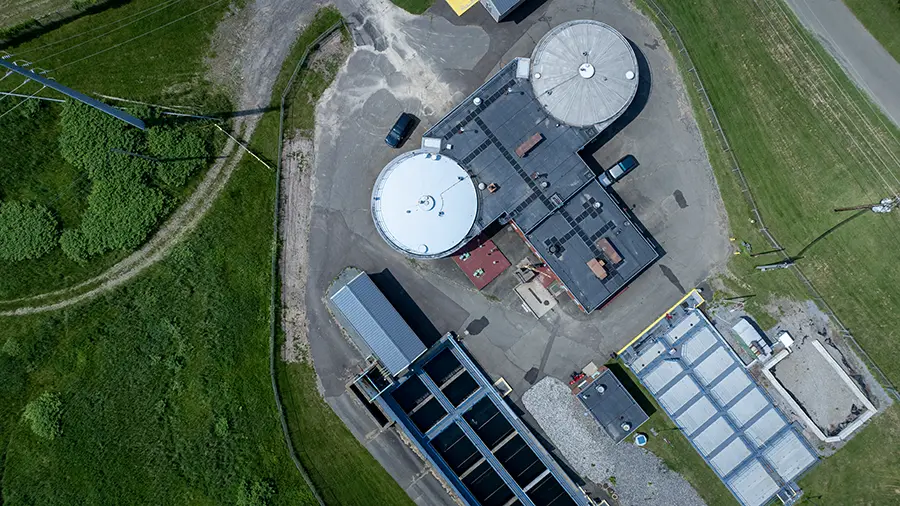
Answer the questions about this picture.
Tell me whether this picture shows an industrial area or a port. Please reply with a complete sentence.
What you see here is an industrial area.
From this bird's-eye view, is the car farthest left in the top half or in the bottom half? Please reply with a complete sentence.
It is in the top half that the car farthest left appears.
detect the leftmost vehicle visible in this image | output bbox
[384,112,413,149]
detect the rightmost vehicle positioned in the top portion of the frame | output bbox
[597,151,642,188]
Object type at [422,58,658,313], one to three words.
building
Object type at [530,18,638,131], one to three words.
storage tank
